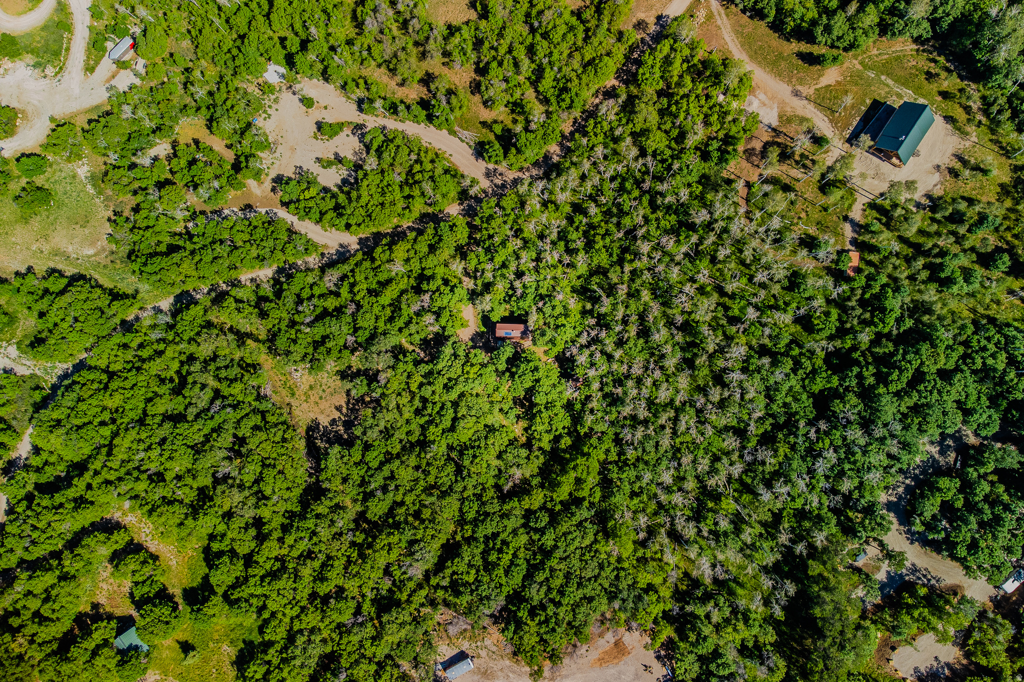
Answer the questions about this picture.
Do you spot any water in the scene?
No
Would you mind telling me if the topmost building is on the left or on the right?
right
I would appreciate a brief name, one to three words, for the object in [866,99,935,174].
building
